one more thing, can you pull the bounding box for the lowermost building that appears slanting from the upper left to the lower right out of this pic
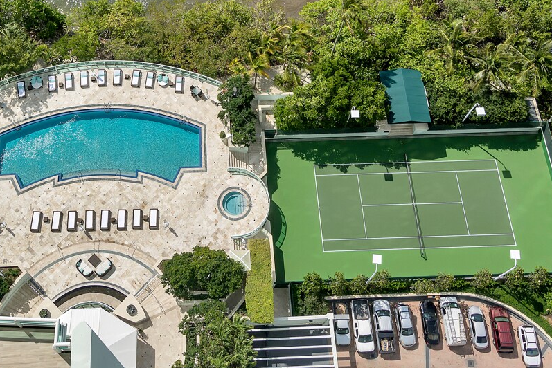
[60,307,137,368]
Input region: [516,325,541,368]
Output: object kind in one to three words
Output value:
car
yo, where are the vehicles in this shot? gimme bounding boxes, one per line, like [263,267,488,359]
[489,307,515,353]
[372,300,396,354]
[393,301,417,347]
[352,300,374,352]
[516,325,541,368]
[332,300,354,345]
[466,306,490,349]
[418,301,441,345]
[439,298,466,346]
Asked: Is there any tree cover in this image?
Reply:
Yes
